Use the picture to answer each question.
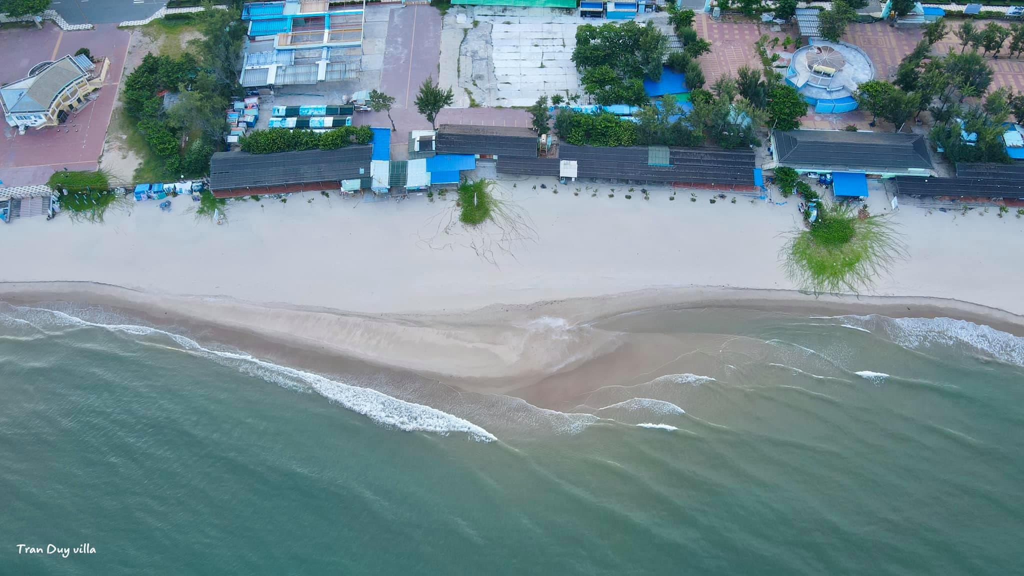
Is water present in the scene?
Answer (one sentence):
Yes, water shows up in the scene.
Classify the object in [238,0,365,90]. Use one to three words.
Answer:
shed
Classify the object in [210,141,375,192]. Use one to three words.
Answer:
building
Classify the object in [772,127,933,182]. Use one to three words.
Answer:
building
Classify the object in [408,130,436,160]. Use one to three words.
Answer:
house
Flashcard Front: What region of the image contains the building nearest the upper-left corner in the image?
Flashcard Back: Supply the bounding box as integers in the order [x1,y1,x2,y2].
[0,54,114,133]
